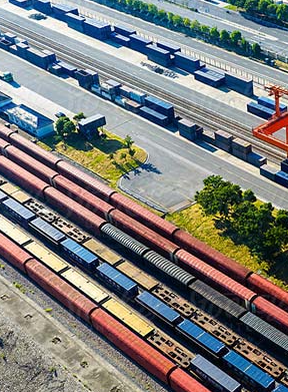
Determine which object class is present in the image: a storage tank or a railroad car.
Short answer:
railroad car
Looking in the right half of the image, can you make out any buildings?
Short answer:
No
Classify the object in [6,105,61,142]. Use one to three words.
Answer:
house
